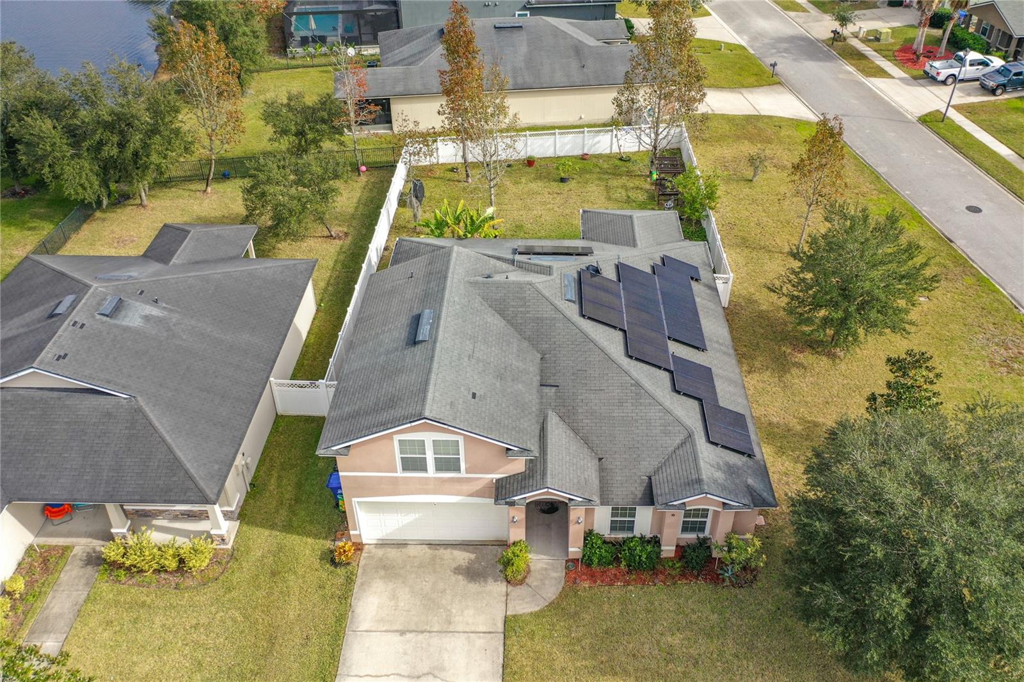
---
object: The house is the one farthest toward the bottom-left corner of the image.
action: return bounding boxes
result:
[0,224,319,604]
